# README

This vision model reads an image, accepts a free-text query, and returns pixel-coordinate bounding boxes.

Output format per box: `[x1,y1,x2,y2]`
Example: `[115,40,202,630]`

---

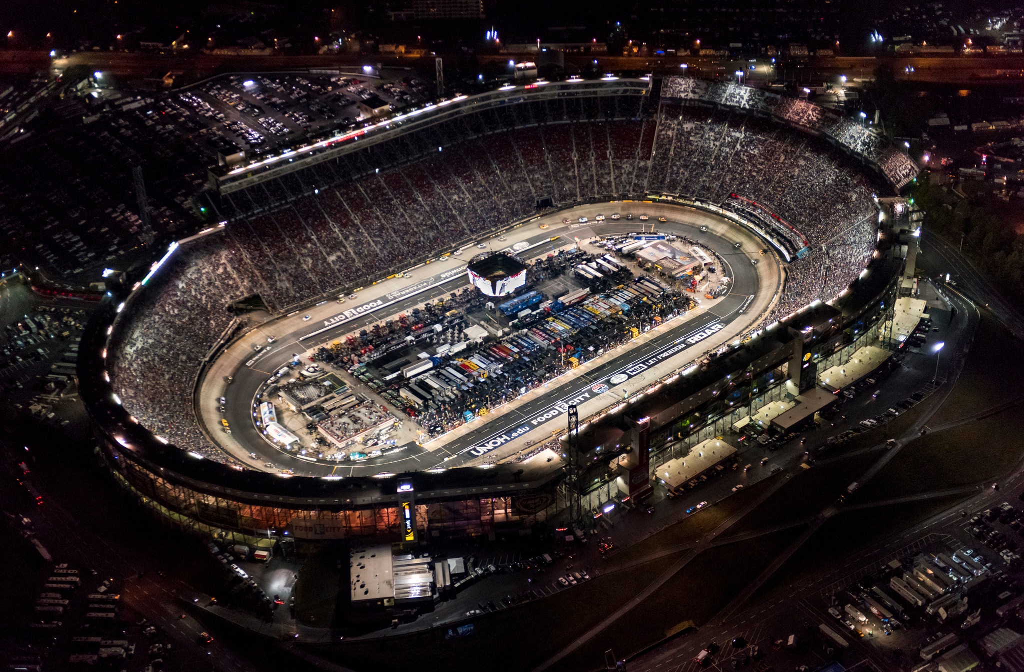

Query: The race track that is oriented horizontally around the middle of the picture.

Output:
[199,202,781,475]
